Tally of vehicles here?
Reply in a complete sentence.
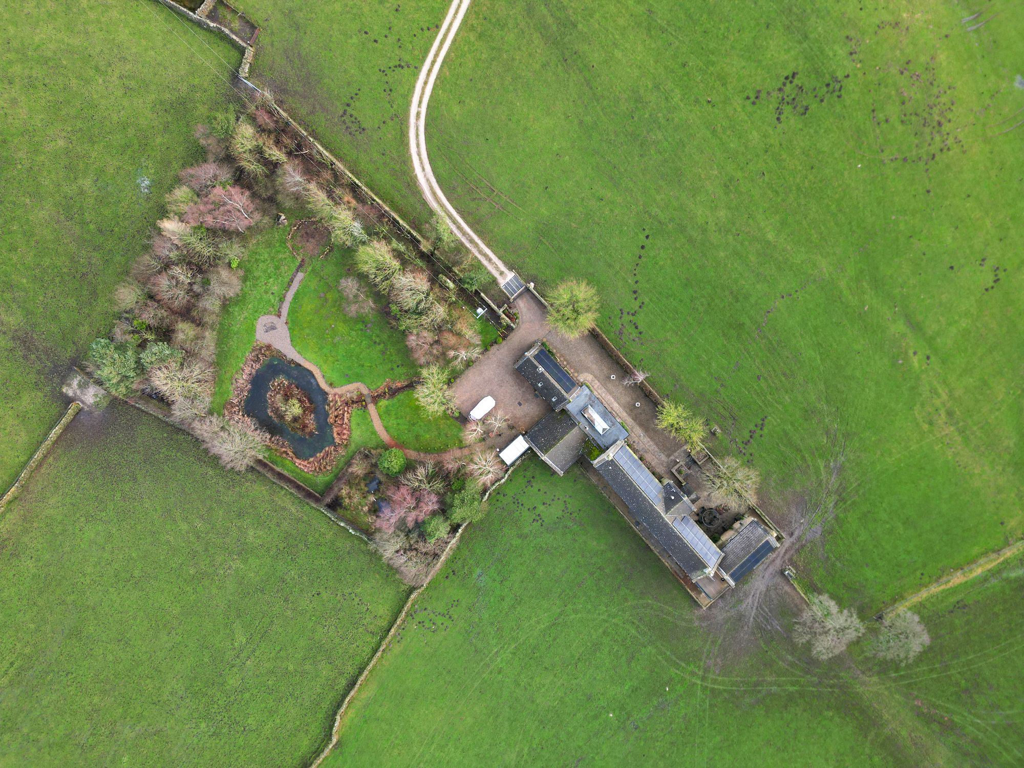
I count 1 vehicle.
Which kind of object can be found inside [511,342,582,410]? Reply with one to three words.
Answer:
house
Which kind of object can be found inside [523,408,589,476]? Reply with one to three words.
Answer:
barn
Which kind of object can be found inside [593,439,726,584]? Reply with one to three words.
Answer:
house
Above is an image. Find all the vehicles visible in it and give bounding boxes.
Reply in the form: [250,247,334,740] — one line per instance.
[467,394,497,422]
